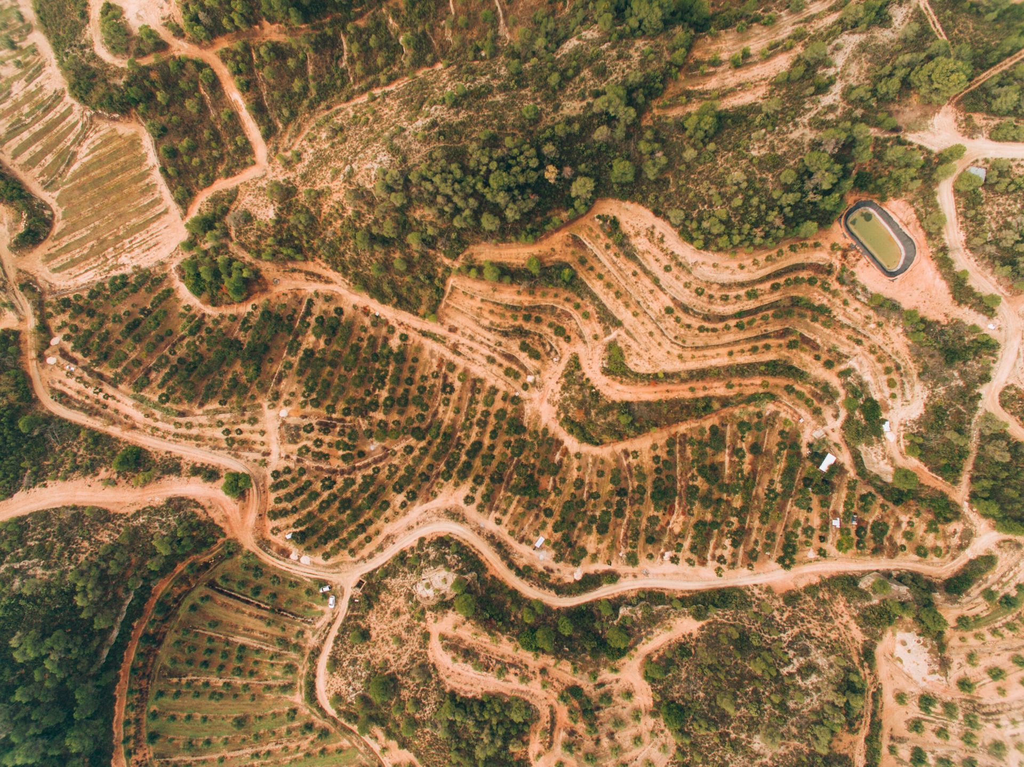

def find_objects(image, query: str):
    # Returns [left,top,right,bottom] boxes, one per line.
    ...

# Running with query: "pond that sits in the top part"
[843,200,916,277]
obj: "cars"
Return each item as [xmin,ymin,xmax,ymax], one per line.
[320,585,331,592]
[329,595,335,608]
